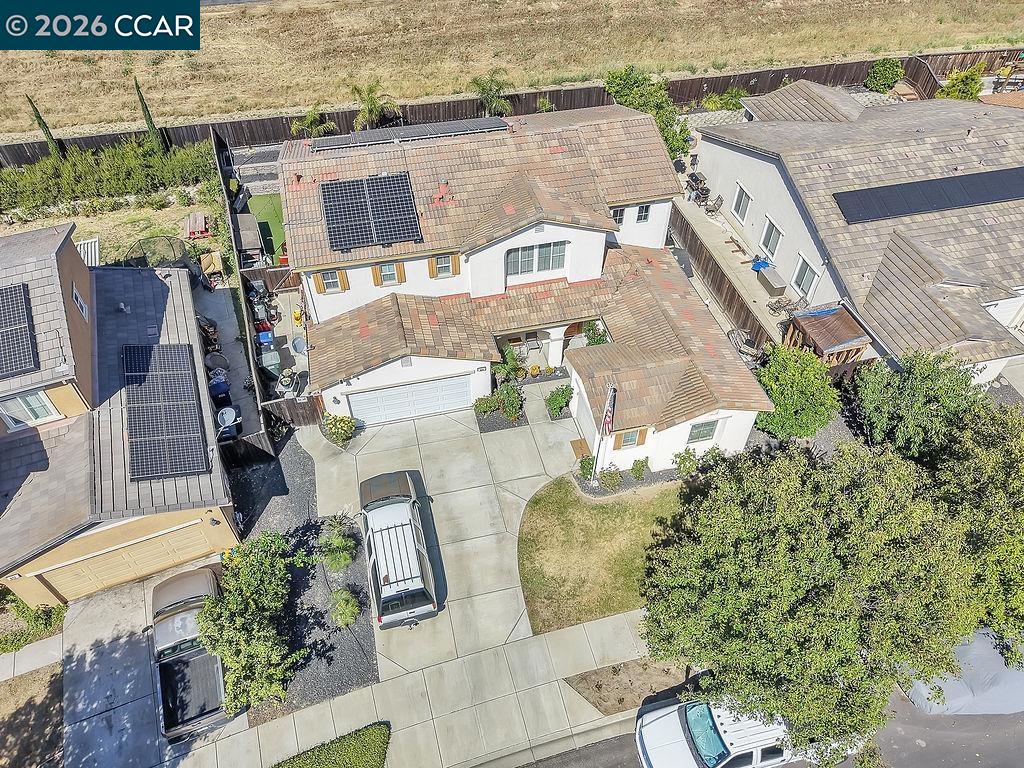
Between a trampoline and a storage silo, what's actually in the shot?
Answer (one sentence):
Of the two, only a trampoline appears.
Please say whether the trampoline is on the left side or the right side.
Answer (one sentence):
The trampoline sits on the left side.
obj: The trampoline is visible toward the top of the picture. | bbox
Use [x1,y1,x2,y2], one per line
[117,232,215,307]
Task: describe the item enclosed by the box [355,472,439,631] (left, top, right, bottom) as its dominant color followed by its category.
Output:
white car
